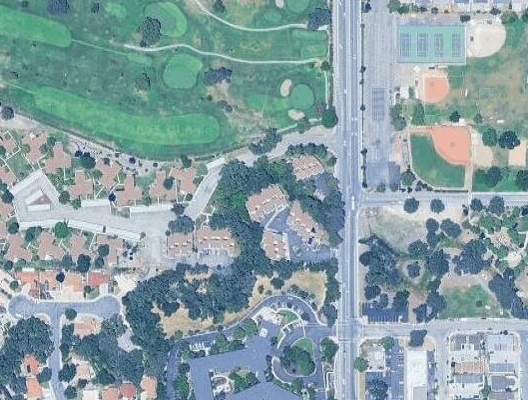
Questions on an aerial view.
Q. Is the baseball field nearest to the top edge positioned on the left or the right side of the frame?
right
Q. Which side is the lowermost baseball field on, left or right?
right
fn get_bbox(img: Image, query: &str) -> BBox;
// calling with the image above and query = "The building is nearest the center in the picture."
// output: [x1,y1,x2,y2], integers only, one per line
[246,183,290,220]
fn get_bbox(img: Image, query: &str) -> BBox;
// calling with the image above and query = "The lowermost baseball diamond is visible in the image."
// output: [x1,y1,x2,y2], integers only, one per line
[406,124,472,191]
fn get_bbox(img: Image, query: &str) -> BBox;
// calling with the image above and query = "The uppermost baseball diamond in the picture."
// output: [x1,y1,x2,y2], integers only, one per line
[467,16,507,57]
